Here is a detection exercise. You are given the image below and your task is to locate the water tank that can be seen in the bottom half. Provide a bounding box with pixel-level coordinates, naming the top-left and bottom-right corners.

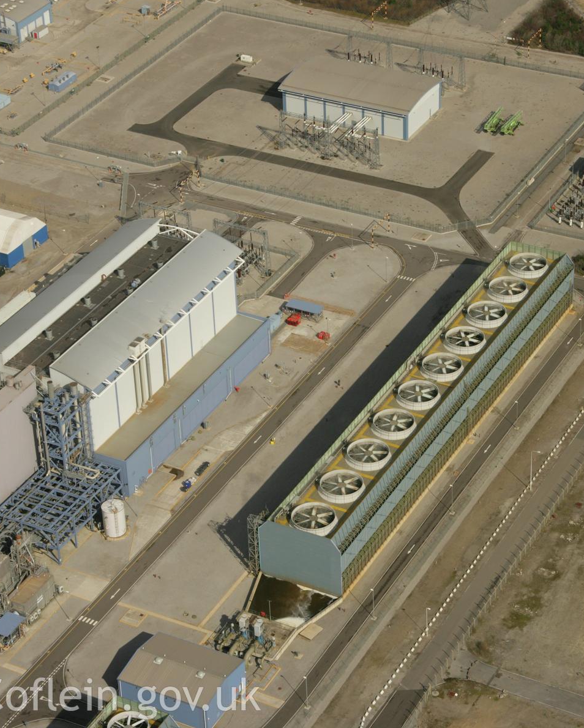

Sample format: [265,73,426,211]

[101,497,129,543]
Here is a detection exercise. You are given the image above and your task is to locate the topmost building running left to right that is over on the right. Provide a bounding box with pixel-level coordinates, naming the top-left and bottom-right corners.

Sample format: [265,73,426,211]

[278,57,446,141]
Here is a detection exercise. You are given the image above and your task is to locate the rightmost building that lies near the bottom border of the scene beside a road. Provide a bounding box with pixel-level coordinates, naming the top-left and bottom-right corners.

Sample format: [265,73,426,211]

[116,632,248,728]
